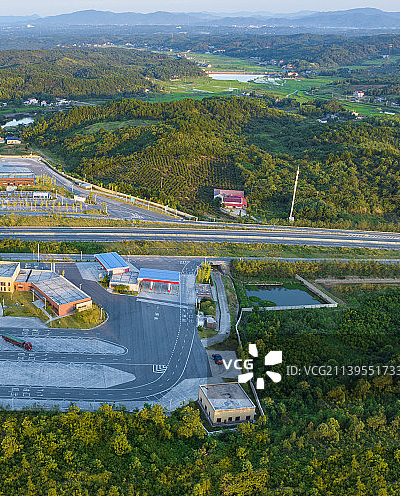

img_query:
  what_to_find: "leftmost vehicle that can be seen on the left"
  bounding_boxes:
[0,331,34,351]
